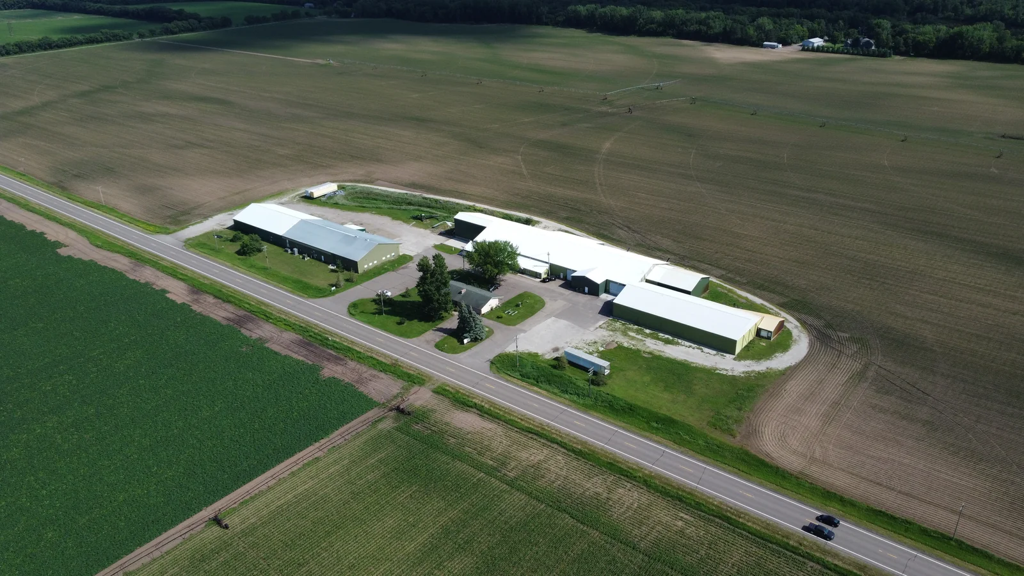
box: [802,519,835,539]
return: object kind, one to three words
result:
vehicle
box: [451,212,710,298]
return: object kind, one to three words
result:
shed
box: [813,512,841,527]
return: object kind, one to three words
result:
car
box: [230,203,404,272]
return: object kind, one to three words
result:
barn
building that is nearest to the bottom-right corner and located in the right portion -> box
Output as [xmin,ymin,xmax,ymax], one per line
[612,281,787,356]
